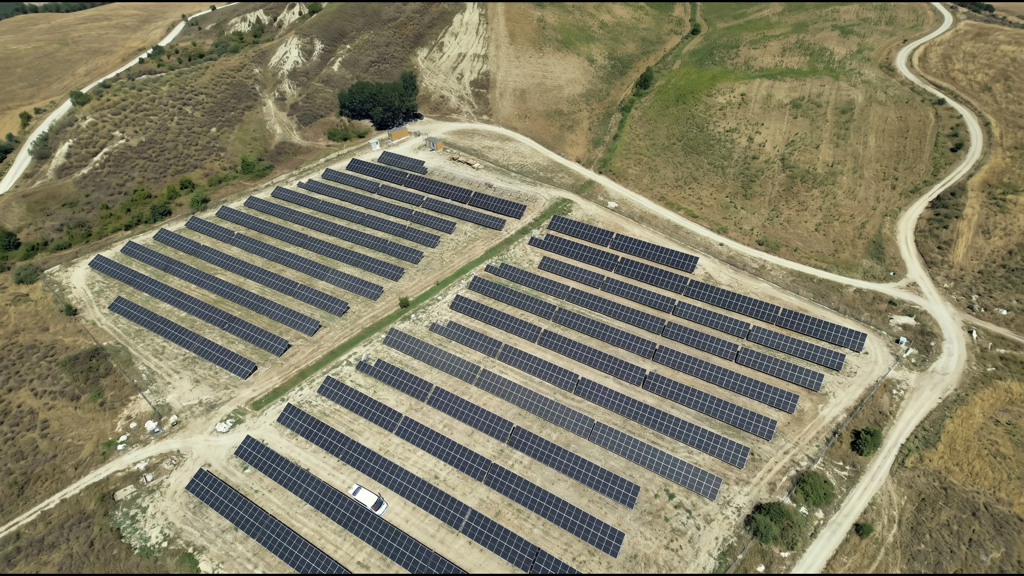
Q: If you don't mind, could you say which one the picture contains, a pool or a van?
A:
van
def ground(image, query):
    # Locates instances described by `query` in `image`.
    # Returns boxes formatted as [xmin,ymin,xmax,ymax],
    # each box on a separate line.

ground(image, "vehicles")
[347,480,390,514]
[413,111,425,117]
